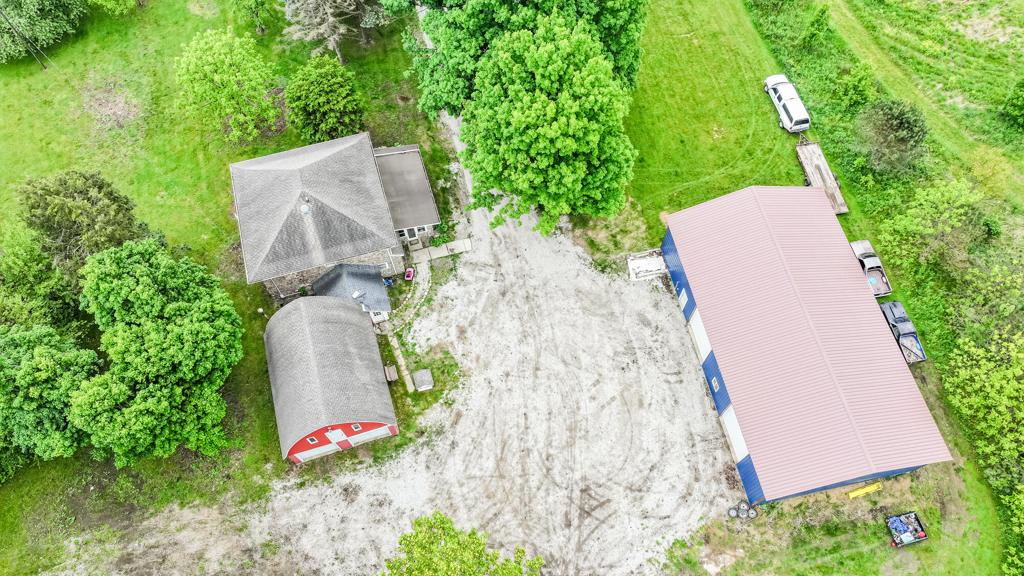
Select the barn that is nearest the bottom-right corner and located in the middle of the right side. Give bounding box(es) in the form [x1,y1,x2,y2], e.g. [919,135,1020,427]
[661,186,952,505]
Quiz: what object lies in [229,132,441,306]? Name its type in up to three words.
house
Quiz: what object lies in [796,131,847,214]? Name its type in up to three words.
trailer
